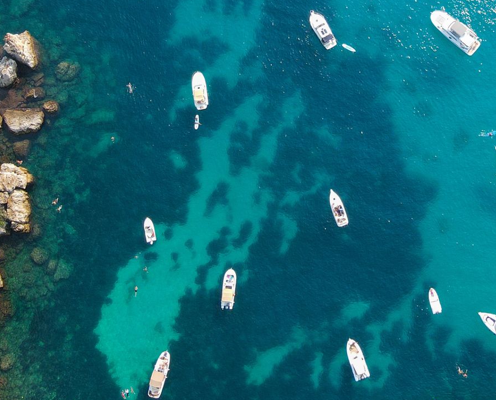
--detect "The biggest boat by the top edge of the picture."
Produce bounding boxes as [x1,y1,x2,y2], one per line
[431,10,485,60]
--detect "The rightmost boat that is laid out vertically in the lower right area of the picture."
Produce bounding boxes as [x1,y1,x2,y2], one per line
[428,287,443,315]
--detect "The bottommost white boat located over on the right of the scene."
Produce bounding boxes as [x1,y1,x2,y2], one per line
[347,337,370,383]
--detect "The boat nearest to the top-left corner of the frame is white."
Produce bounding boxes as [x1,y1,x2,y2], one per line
[192,71,209,114]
